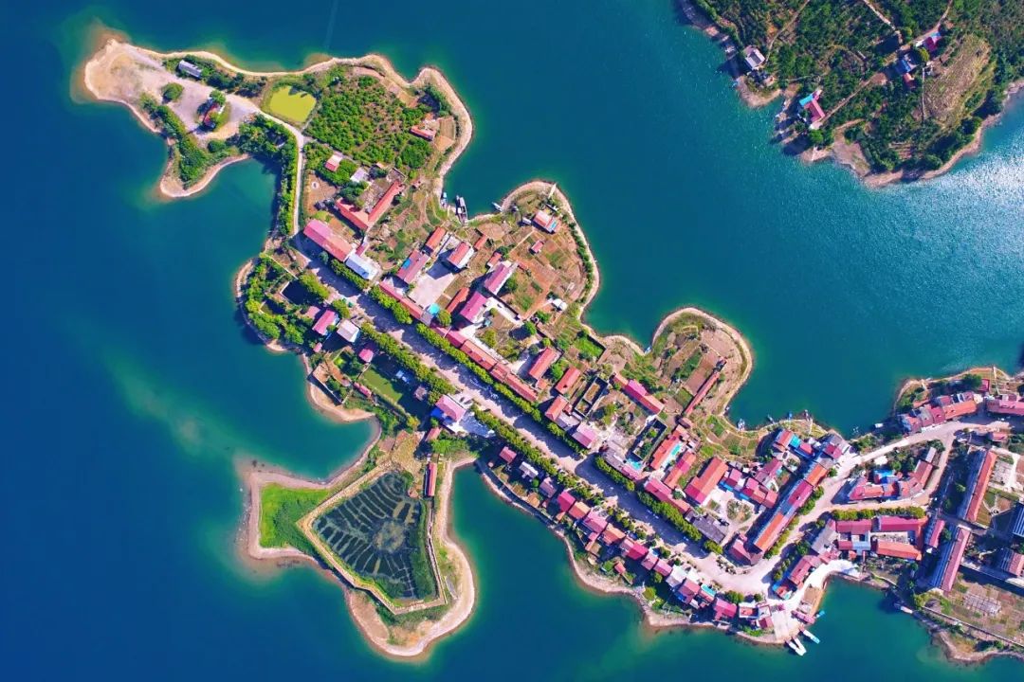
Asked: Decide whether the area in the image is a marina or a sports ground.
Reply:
marina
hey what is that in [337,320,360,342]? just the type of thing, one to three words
house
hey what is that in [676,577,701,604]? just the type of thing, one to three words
house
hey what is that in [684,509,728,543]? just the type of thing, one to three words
building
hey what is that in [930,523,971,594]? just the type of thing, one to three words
building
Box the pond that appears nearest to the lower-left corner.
[298,462,447,615]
